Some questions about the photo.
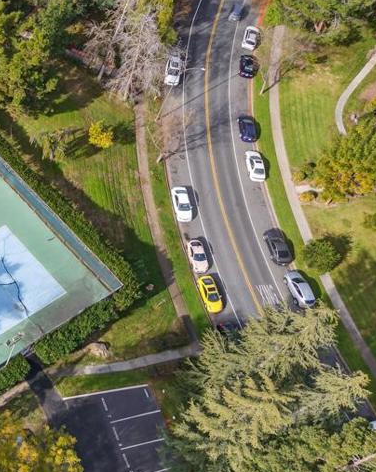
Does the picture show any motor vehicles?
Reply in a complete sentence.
Yes, you can see a motor vehicle in this photo.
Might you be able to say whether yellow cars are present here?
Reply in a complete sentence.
Yes, a yellow car can be made out from above.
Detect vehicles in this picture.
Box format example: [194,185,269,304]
[237,113,259,145]
[184,237,211,275]
[243,150,267,182]
[194,274,223,315]
[239,52,258,81]
[212,313,247,356]
[263,229,294,266]
[164,54,182,85]
[169,186,193,221]
[282,270,318,309]
[240,25,260,51]
[226,1,248,24]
